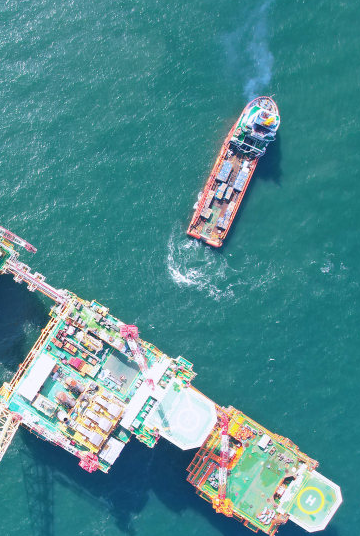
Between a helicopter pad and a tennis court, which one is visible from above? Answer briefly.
helicopter pad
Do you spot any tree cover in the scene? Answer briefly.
No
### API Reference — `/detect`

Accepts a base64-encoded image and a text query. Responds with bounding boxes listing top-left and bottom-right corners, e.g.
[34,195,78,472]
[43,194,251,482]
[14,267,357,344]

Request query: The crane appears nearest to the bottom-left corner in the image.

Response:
[15,419,103,474]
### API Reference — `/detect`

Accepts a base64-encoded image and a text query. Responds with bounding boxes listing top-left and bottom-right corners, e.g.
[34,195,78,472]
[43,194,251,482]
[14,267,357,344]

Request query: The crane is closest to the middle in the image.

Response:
[117,317,154,389]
